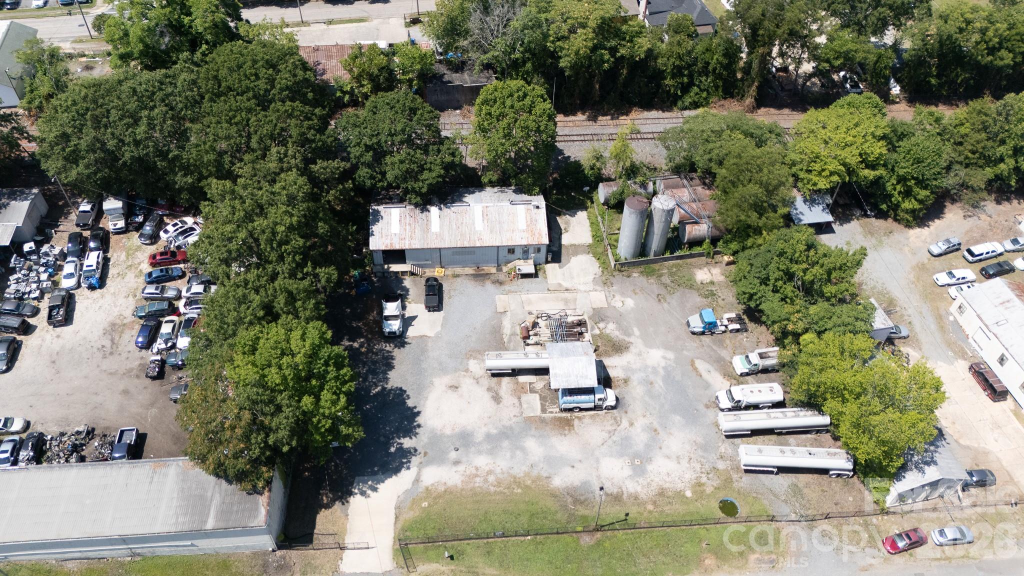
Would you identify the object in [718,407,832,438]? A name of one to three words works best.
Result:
trailer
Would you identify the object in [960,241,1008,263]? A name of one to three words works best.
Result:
car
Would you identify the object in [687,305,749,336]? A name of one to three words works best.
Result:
truck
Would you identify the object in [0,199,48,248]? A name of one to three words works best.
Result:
shed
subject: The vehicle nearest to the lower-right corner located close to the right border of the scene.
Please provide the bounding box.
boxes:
[929,525,977,548]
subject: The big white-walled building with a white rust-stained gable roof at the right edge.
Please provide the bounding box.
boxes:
[949,274,1024,410]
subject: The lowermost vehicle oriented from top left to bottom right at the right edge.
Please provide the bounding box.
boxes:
[966,363,1009,400]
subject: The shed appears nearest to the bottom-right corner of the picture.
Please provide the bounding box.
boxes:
[886,433,978,505]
